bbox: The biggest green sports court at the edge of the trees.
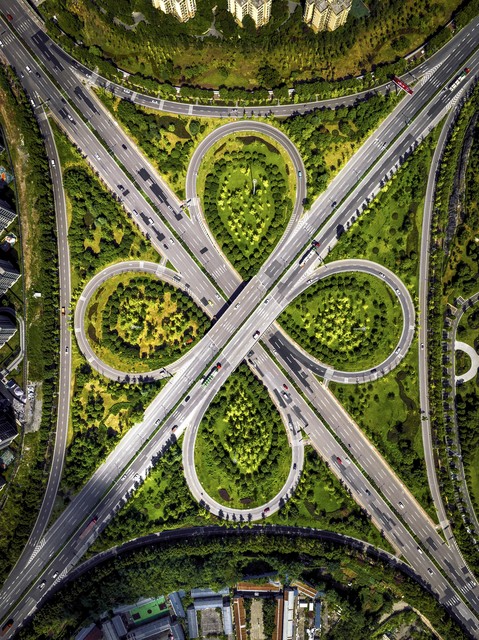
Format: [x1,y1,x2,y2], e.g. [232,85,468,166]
[129,596,173,626]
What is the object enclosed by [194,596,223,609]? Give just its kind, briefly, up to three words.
shed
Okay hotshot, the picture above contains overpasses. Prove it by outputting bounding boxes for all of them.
[198,279,287,375]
